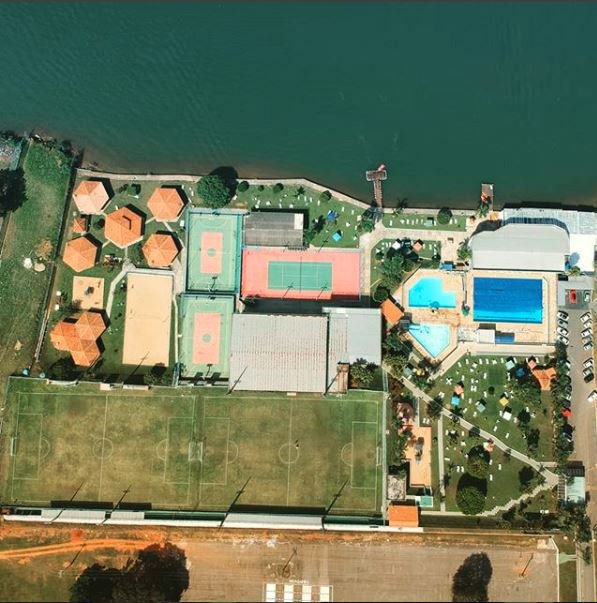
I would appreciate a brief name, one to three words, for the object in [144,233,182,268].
gazebo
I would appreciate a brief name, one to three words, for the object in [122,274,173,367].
sports court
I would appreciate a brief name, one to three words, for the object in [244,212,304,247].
shed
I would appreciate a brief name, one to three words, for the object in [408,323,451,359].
swimming pool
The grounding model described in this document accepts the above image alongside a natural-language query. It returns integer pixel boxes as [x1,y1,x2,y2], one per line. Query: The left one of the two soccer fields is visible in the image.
[1,377,200,512]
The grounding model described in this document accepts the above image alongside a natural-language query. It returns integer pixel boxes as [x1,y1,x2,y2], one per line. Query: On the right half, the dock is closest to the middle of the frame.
[366,170,387,209]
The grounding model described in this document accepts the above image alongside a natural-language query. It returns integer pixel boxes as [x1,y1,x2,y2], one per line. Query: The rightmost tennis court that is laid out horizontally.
[241,248,360,300]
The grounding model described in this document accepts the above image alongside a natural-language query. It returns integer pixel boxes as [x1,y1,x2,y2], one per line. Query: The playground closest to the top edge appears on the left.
[72,276,104,310]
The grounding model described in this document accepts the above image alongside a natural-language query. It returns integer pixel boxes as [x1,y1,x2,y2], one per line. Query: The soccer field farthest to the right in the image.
[196,392,384,519]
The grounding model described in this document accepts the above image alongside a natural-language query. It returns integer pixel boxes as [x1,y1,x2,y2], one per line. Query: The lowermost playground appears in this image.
[404,424,432,486]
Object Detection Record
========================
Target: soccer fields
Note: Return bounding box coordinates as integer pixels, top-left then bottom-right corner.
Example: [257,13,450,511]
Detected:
[1,377,200,512]
[196,392,384,519]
